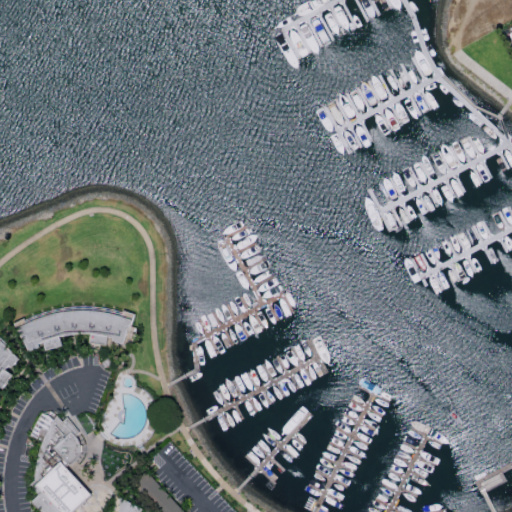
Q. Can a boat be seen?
Yes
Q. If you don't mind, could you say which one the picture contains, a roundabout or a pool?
pool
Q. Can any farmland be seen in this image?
No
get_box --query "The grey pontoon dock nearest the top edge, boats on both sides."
[272,0,392,68]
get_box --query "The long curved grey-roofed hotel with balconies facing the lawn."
[14,306,137,351]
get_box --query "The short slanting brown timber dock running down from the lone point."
[215,220,282,304]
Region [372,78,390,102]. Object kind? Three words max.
boat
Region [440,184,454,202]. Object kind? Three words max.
boat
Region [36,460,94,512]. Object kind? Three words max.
building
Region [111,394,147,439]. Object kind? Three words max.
swimming pool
